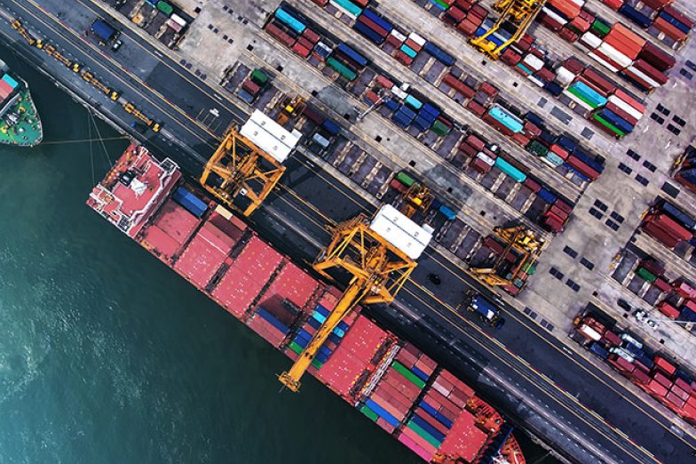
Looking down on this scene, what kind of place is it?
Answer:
port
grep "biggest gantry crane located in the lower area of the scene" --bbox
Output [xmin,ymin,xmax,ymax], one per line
[276,196,440,397]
